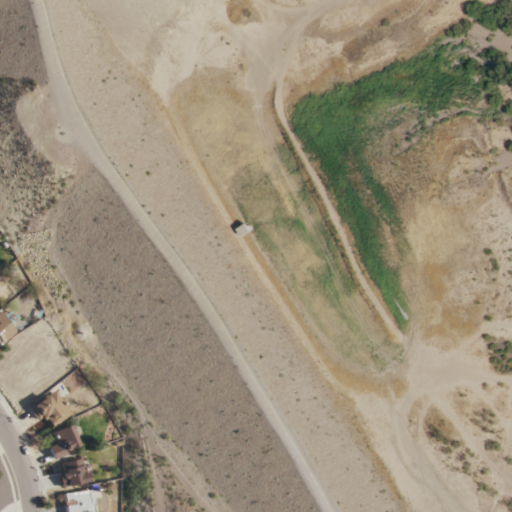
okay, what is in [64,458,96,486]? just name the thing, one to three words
house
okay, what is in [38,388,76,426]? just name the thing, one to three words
house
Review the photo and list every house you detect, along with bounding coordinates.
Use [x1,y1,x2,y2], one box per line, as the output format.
[64,458,96,486]
[38,388,76,426]
[59,490,96,512]
[0,316,16,348]
[51,426,84,462]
